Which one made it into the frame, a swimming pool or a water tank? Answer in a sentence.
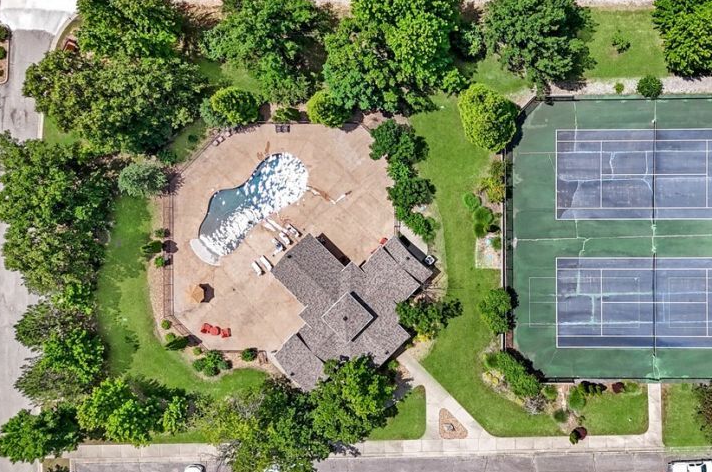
Visible in the photo is a swimming pool.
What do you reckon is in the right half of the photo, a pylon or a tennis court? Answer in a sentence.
The one visible in the right half of the photo is a tennis court.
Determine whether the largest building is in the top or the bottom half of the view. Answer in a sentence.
Seen from above, the largest building lies in the bottom half of the view.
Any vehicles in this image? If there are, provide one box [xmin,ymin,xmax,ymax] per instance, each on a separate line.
[185,464,206,472]
[668,458,712,472]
